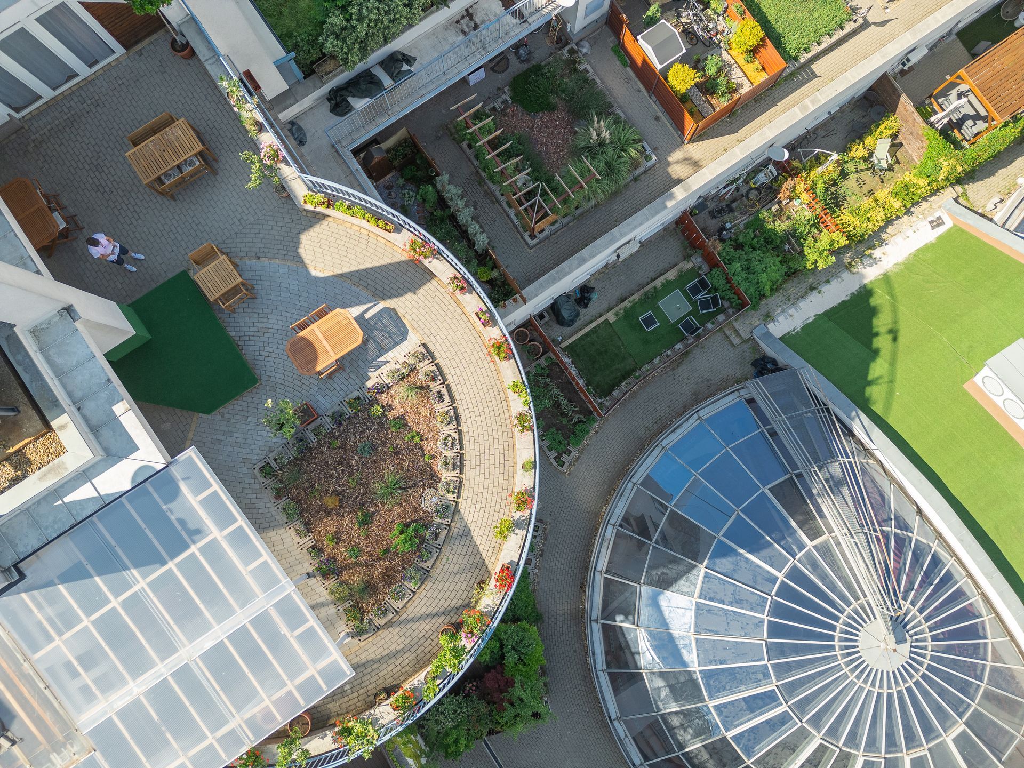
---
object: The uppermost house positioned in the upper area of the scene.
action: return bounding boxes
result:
[561,0,612,42]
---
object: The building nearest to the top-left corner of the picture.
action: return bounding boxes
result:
[0,0,206,120]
